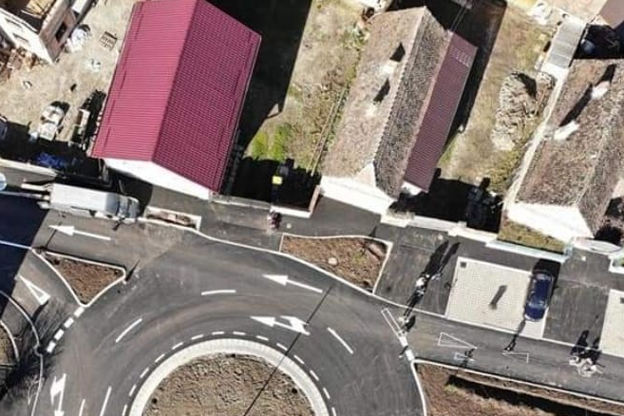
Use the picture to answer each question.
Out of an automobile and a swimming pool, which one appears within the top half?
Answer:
automobile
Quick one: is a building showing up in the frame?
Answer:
Yes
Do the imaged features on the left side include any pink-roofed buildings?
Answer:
Yes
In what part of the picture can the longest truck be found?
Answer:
left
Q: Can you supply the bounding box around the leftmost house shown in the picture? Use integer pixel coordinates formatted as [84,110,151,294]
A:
[0,0,79,62]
